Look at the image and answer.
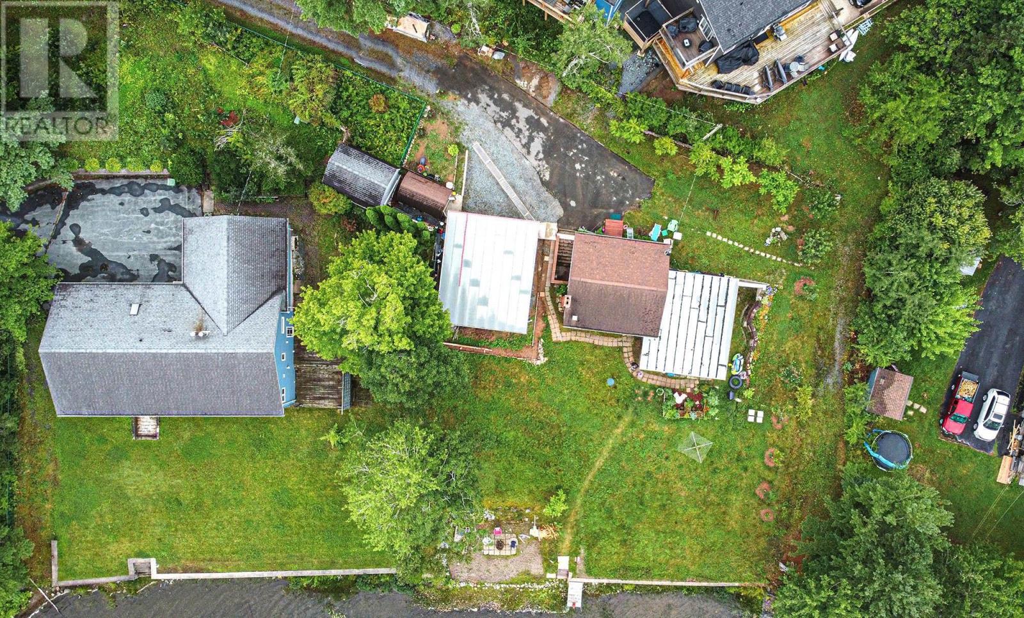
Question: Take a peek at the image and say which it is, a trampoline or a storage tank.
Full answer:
Of the two, only a trampoline appears.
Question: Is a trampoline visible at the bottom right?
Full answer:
Yes, you'll find a trampoline at the bottom right.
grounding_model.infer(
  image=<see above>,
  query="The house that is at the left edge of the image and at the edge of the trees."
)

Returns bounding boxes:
[39,215,295,417]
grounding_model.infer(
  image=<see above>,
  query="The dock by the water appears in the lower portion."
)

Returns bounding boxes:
[567,583,583,608]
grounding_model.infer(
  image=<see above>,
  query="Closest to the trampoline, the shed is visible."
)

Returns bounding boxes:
[860,368,914,420]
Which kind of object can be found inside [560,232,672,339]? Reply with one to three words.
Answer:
house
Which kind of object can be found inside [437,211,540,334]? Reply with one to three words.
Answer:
building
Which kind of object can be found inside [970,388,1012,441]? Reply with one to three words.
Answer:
car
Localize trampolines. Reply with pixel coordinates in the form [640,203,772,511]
[863,429,914,473]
